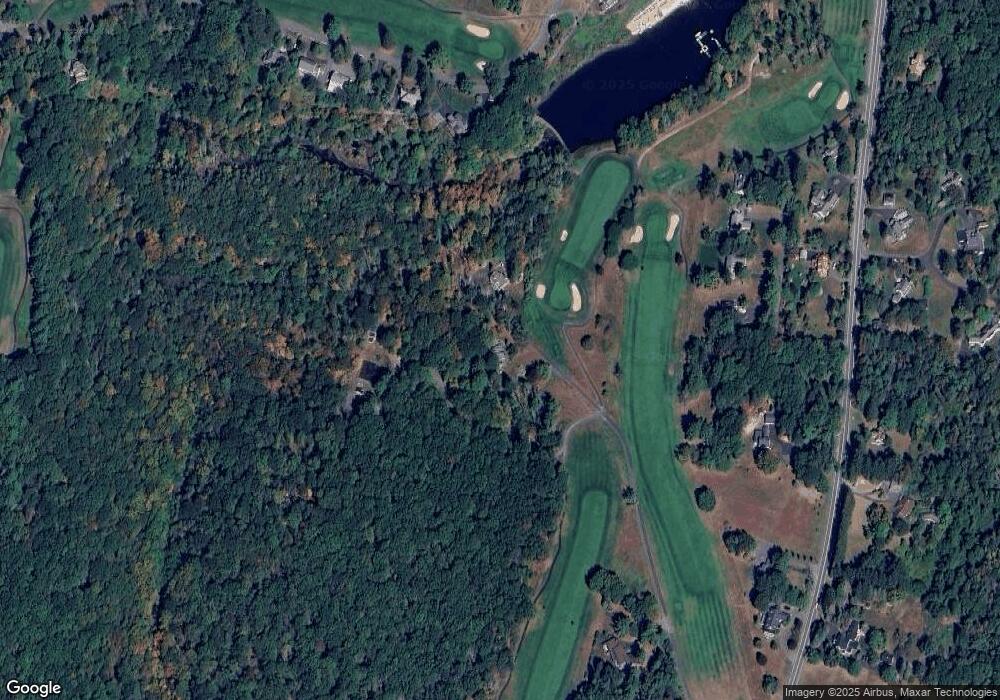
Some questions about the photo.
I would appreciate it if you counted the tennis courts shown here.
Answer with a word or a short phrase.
0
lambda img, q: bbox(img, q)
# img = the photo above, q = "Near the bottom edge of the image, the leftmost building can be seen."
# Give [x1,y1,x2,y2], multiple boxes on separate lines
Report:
[603,634,646,667]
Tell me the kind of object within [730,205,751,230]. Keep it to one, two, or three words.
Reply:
house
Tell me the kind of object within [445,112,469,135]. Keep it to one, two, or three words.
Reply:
house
